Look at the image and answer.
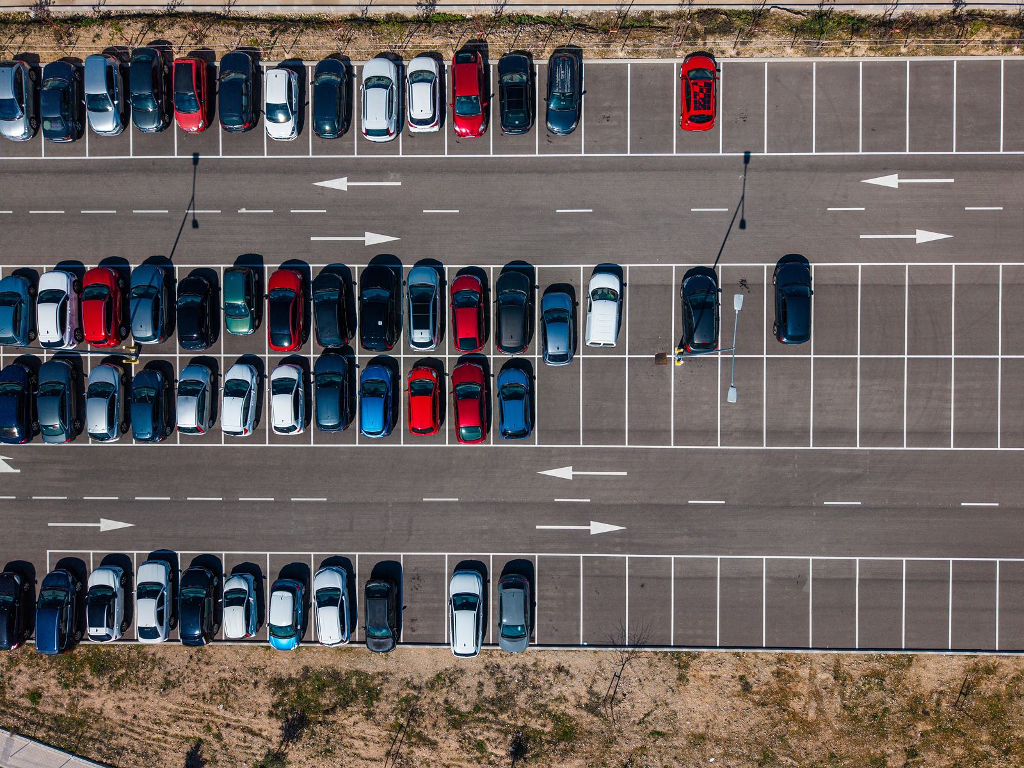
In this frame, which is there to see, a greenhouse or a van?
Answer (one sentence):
The one in the frame is a van.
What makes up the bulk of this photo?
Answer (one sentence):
For the most part, this view shows paved ground.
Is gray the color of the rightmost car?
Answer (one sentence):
No, the rightmost car is actually black.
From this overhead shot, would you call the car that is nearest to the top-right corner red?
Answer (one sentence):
Yes, red is the color of the car that is nearest to the top-right corner.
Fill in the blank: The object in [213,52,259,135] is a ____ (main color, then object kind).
black car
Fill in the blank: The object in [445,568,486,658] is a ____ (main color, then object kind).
white car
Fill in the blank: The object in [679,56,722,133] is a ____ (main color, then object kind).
red car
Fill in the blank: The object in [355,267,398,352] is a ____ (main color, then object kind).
black car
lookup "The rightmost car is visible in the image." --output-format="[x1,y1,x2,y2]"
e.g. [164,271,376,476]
[772,263,818,345]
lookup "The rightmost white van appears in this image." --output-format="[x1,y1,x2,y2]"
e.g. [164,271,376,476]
[584,274,625,348]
